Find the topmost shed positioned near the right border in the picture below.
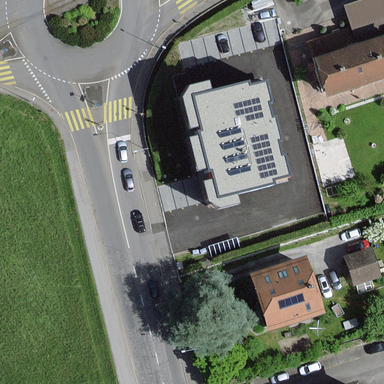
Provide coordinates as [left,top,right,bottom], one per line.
[344,0,384,30]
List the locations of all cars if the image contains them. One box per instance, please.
[216,32,230,54]
[270,372,290,384]
[252,22,265,44]
[122,168,134,191]
[132,210,144,232]
[258,9,278,20]
[364,342,384,353]
[341,228,362,240]
[300,362,322,375]
[116,140,128,163]
[329,270,342,290]
[348,240,370,252]
[317,274,332,298]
